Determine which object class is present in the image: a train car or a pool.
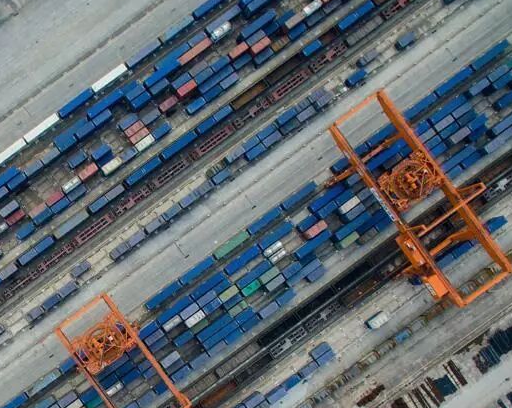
train car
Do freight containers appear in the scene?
Yes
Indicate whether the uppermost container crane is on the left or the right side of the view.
right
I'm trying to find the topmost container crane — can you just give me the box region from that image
[326,91,512,307]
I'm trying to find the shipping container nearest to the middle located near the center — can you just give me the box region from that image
[244,205,284,236]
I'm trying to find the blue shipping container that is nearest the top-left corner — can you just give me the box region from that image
[58,88,94,119]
